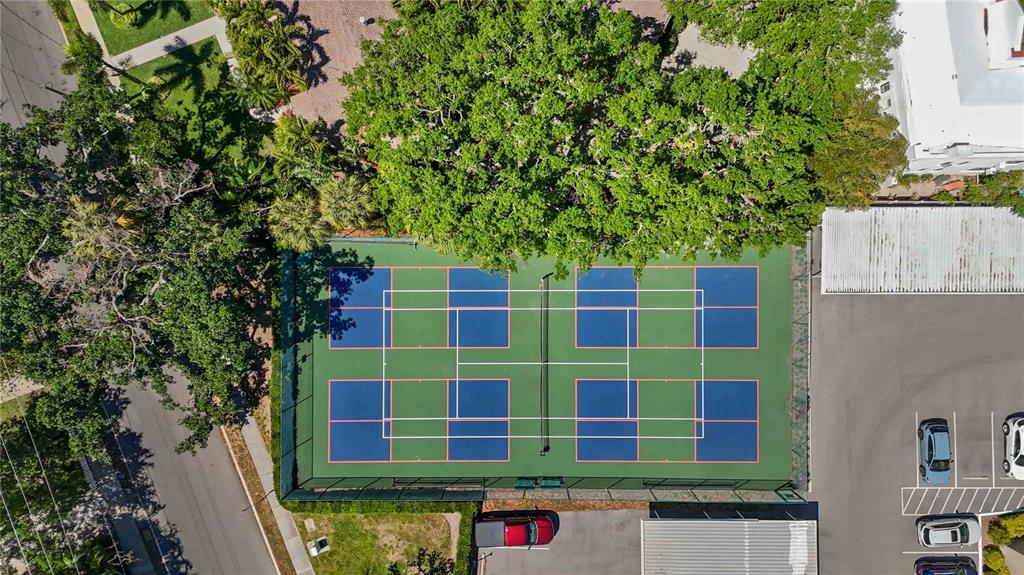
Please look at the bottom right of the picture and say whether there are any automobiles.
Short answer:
Yes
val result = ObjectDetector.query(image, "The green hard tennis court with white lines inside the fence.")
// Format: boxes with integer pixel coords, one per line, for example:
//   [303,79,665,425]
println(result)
[297,243,789,488]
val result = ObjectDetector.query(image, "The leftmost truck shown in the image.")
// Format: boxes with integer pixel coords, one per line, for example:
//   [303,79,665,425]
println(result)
[476,515,552,551]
